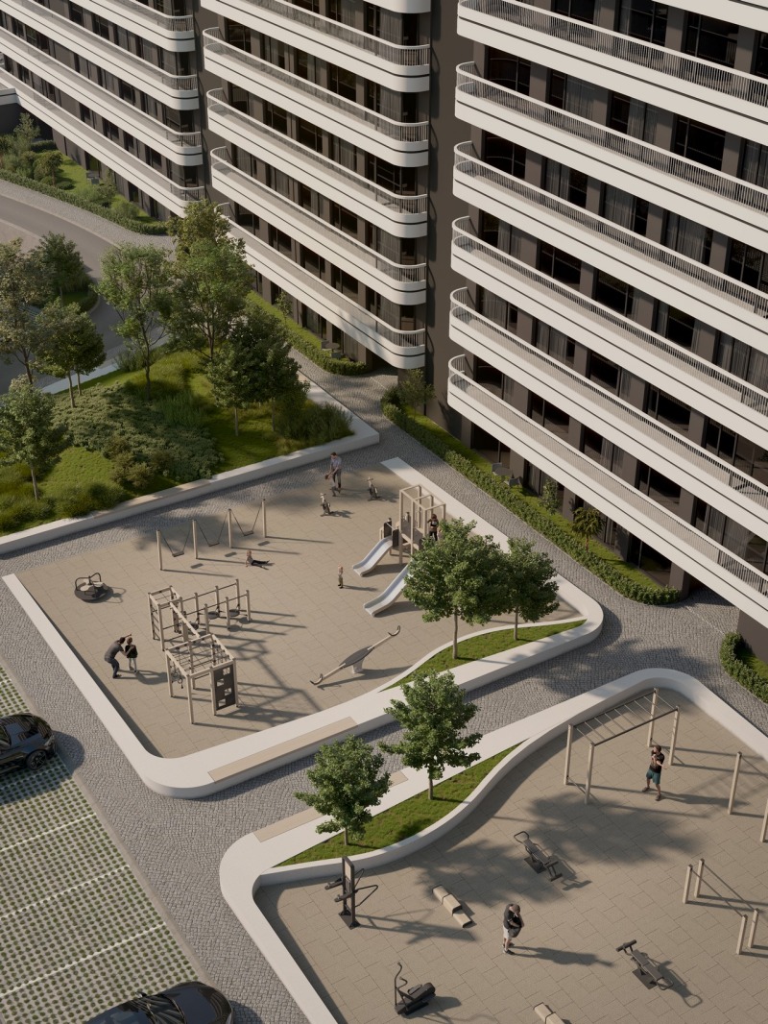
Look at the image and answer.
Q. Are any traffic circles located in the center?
No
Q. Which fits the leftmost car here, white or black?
black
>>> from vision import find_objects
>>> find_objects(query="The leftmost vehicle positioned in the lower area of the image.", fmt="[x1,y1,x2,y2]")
[0,706,59,772]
